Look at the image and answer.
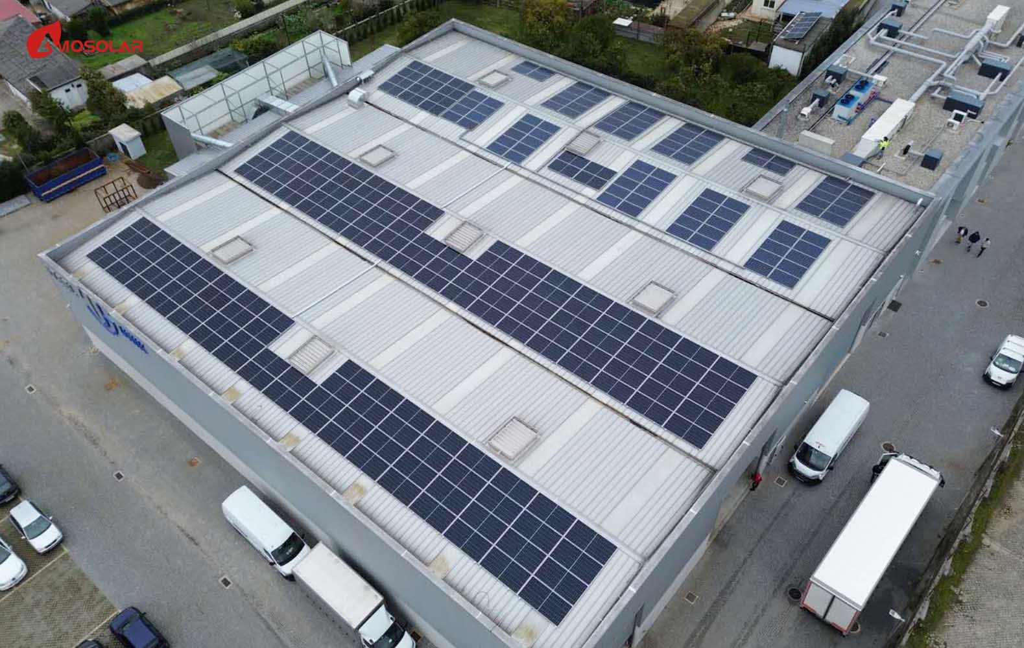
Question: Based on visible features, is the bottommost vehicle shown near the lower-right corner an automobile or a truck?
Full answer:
What you see as the bottommost vehicle shown near the lower-right corner is a truck.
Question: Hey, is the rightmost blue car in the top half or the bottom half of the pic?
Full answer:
Seen from above, the rightmost blue car lies in the bottom half of the view.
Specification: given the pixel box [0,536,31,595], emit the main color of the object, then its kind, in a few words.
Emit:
white car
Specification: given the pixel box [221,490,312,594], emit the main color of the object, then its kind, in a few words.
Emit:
white van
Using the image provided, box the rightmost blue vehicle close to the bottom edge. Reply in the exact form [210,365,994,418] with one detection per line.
[108,604,176,648]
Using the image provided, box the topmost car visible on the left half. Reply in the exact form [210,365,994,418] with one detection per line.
[0,461,25,510]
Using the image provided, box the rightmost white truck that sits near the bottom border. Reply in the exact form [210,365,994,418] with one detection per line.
[793,450,944,639]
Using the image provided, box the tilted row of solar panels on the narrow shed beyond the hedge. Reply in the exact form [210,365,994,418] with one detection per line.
[775,10,823,44]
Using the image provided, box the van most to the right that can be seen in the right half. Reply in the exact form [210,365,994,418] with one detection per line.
[984,330,1024,393]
